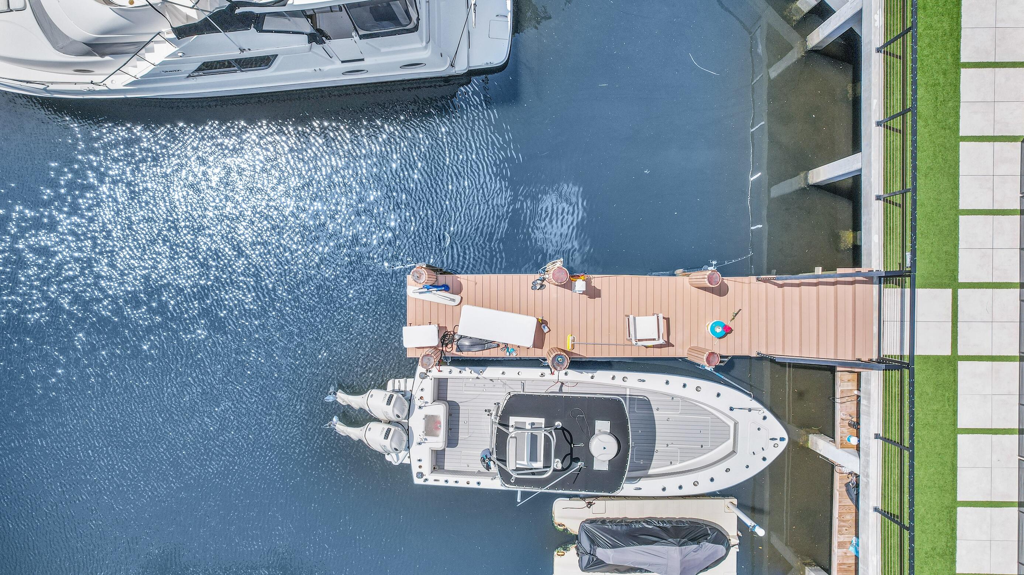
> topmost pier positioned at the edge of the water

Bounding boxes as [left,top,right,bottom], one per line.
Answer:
[407,275,748,357]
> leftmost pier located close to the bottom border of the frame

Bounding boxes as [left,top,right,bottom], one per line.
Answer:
[548,493,739,575]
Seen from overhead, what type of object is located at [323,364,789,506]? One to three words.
boat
